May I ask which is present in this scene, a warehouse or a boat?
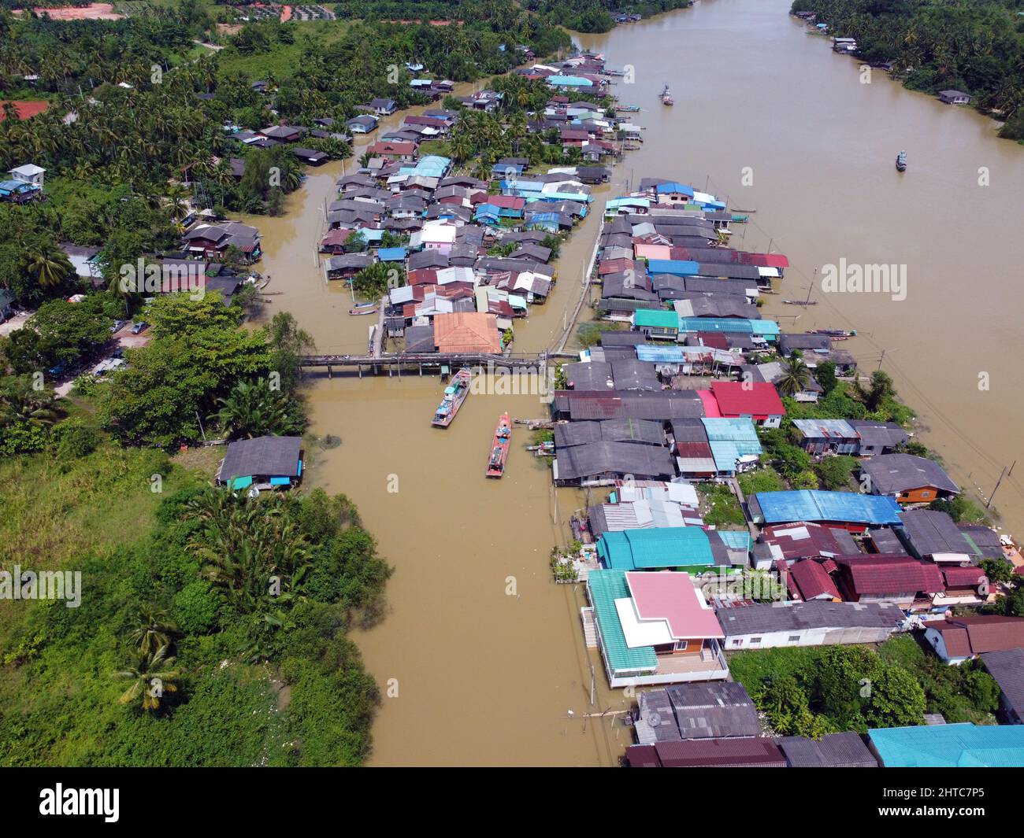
boat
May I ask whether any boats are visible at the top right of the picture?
Yes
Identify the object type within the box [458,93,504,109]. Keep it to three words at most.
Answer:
house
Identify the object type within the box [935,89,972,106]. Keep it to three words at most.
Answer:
house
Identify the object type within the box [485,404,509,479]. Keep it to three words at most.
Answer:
boat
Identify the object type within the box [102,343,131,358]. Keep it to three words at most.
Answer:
car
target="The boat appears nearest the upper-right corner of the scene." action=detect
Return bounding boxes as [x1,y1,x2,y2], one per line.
[890,142,911,168]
